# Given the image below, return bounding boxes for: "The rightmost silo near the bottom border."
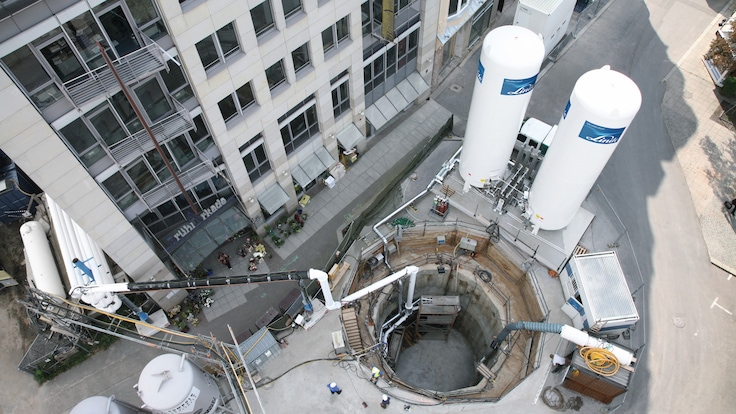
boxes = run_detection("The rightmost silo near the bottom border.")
[134,350,219,414]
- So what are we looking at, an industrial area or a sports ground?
industrial area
